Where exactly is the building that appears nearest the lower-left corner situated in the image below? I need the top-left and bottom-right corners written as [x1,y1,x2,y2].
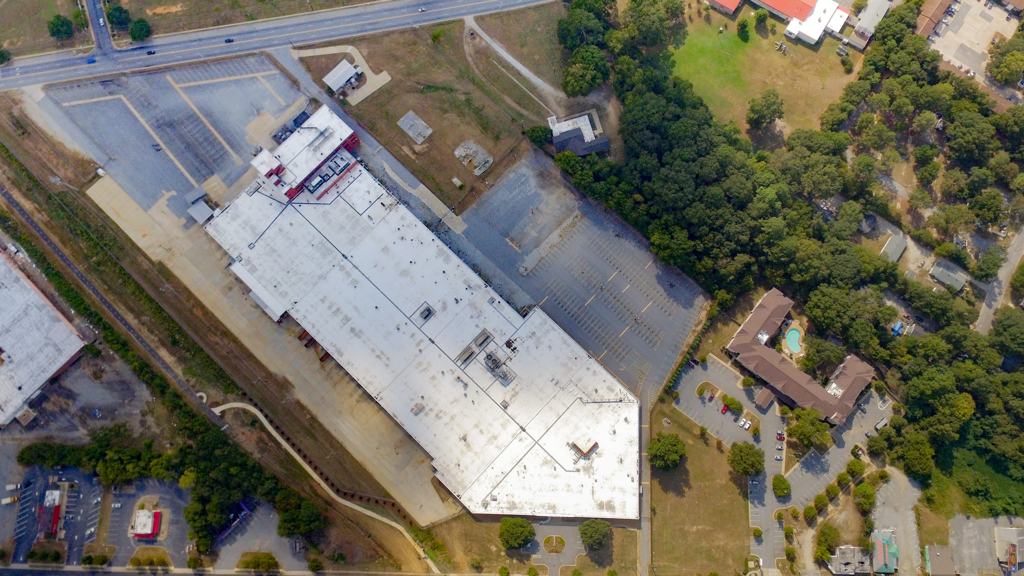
[36,489,66,541]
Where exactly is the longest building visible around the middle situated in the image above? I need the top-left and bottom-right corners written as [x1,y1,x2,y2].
[203,163,639,520]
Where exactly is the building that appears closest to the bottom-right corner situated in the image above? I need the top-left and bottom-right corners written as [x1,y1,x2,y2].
[988,526,1024,567]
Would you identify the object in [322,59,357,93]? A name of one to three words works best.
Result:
shed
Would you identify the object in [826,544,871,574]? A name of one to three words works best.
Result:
building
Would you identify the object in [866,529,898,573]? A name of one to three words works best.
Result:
building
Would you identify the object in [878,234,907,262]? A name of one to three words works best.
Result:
house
